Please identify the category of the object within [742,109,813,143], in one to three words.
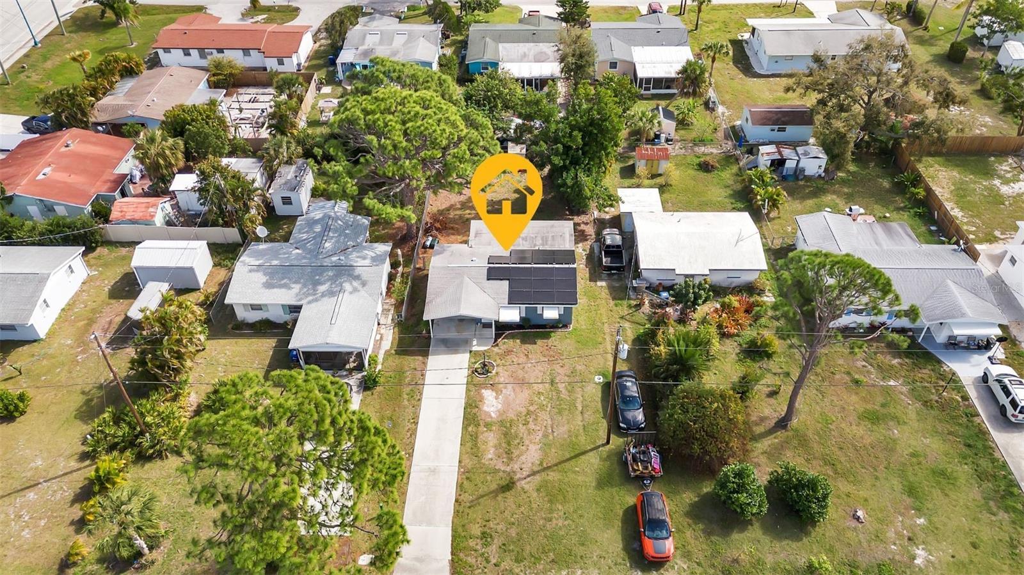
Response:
building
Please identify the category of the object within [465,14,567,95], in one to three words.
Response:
house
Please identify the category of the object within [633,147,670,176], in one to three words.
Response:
shed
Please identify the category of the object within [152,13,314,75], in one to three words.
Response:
house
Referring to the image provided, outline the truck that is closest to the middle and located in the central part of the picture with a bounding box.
[599,225,629,271]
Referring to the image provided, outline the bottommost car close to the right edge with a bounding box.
[979,367,1024,429]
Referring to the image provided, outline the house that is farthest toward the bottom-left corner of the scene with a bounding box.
[0,247,97,343]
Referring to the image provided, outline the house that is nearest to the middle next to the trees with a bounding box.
[422,220,580,337]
